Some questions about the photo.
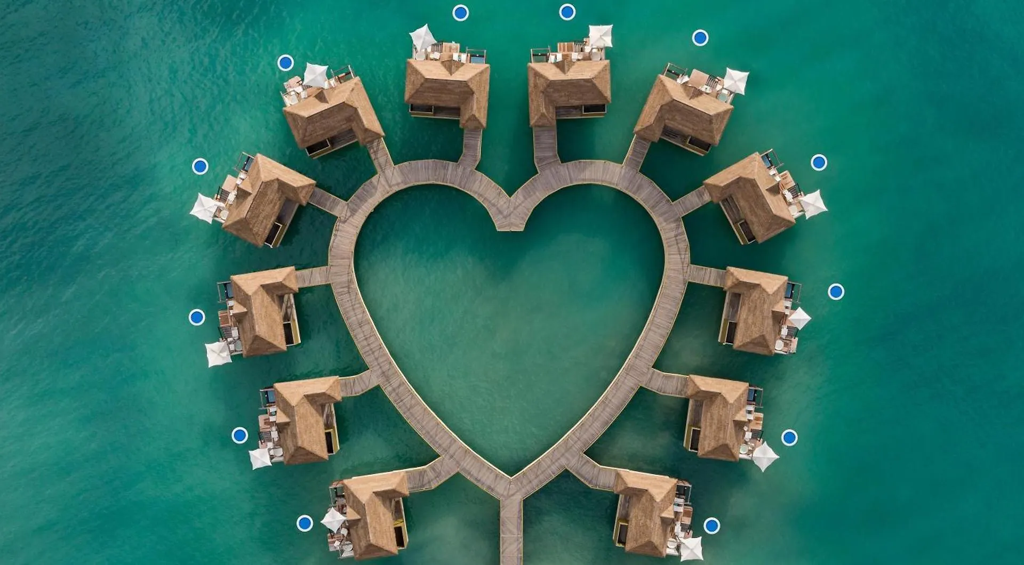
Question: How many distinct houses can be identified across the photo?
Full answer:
The count of houses comes to 12.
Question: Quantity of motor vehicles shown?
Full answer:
Not a single motor vehicle can be seen.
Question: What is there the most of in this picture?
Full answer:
What you mostly see from above here is water.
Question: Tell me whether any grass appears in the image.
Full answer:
No, there is no grass in the image.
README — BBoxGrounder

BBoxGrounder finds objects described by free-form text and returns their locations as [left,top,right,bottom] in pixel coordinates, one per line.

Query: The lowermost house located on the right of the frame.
[611,466,696,557]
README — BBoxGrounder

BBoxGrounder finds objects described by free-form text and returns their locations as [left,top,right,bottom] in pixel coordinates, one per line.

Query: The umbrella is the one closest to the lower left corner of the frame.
[249,448,276,470]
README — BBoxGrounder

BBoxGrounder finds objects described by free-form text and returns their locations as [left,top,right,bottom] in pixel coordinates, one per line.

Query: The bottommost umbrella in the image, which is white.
[680,535,703,561]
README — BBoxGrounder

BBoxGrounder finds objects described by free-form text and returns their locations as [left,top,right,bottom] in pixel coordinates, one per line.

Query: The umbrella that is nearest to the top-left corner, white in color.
[190,193,222,223]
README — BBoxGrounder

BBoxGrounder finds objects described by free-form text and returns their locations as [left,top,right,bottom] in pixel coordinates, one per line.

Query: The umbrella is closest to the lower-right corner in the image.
[747,441,779,472]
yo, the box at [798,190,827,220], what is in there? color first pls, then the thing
white umbrella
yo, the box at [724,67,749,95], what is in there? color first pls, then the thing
white umbrella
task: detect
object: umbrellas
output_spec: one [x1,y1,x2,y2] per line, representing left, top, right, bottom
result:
[788,307,812,329]
[747,441,779,472]
[724,67,749,95]
[409,24,437,51]
[798,190,827,220]
[190,193,222,223]
[589,25,613,51]
[304,63,328,86]
[249,448,276,470]
[680,535,703,561]
[205,341,239,367]
[321,507,345,533]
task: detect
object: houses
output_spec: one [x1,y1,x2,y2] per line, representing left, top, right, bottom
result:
[527,38,611,126]
[702,146,802,248]
[611,466,696,557]
[215,148,317,252]
[682,374,766,461]
[257,374,345,466]
[405,38,490,128]
[214,266,304,357]
[716,266,804,355]
[283,60,385,163]
[325,467,412,560]
[633,58,734,159]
